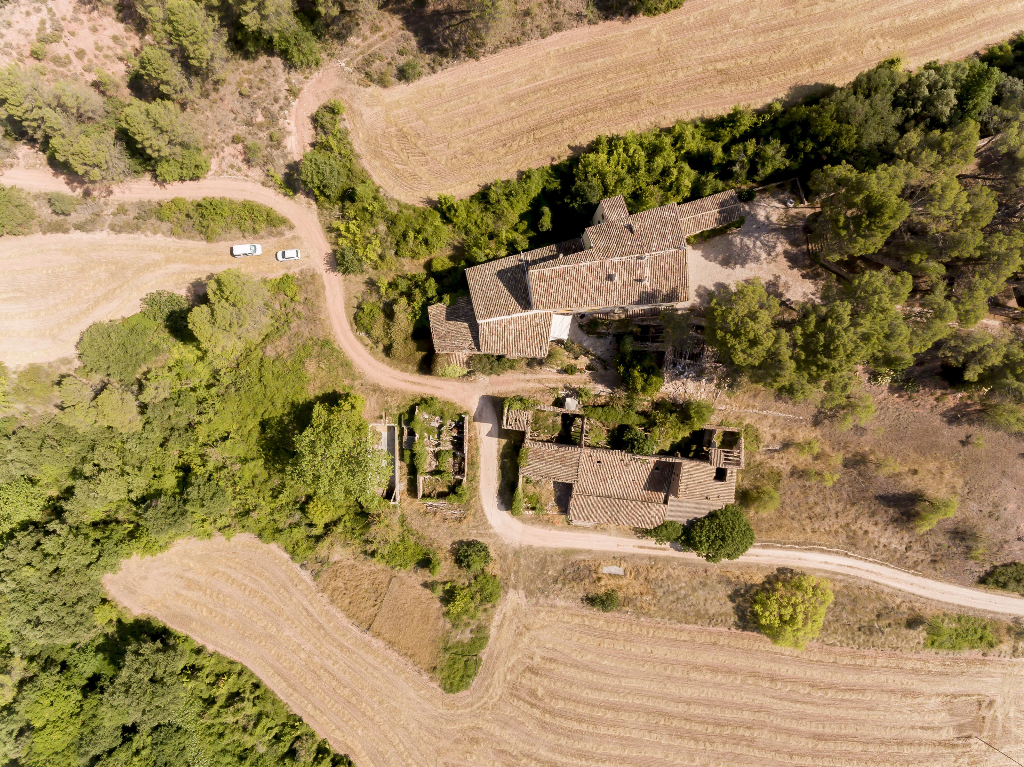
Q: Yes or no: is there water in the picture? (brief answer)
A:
No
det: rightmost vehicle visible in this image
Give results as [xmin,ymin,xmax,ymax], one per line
[276,248,300,260]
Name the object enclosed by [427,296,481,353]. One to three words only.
shed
